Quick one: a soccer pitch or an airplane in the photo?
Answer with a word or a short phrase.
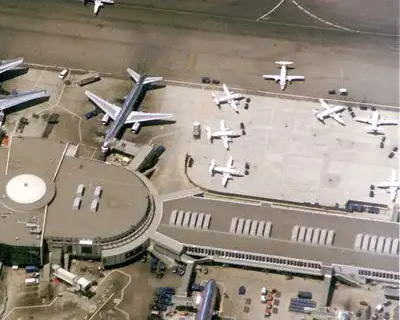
airplane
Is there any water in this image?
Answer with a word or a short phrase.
No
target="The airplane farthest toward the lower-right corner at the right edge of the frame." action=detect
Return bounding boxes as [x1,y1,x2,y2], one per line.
[372,172,400,199]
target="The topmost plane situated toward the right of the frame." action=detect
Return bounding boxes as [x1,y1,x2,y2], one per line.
[262,57,305,91]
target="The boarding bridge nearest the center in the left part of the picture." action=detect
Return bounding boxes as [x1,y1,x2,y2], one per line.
[112,137,142,159]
